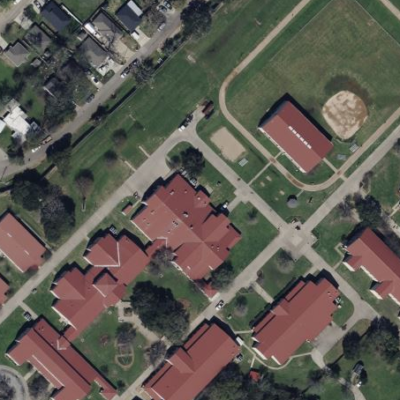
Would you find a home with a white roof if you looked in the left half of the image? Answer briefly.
Yes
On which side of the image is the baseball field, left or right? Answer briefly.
right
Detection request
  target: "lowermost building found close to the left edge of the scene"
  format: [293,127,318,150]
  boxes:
[4,319,116,400]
